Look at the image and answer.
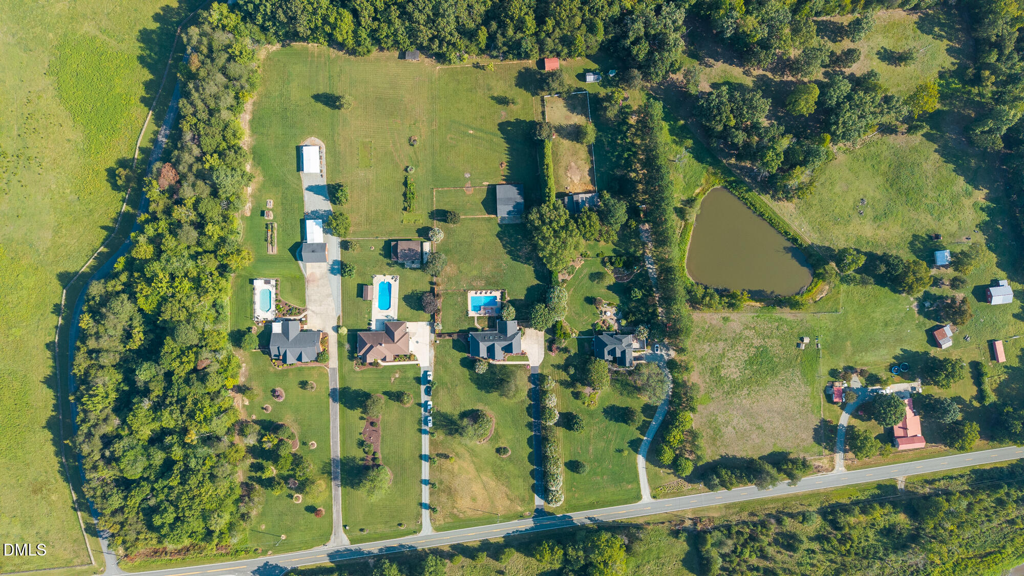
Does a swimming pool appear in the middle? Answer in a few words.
Yes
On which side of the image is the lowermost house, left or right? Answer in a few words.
right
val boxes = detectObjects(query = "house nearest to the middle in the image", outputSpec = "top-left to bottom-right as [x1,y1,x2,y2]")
[470,321,521,360]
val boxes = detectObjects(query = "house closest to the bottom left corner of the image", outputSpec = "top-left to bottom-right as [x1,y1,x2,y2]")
[269,321,323,364]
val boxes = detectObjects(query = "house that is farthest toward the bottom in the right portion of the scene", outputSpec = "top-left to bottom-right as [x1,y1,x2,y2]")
[894,399,929,453]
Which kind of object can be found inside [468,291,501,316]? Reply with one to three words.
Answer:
swimming pool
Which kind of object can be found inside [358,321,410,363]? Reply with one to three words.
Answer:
house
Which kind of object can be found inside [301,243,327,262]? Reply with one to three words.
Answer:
building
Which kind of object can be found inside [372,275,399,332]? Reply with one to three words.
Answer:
swimming pool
